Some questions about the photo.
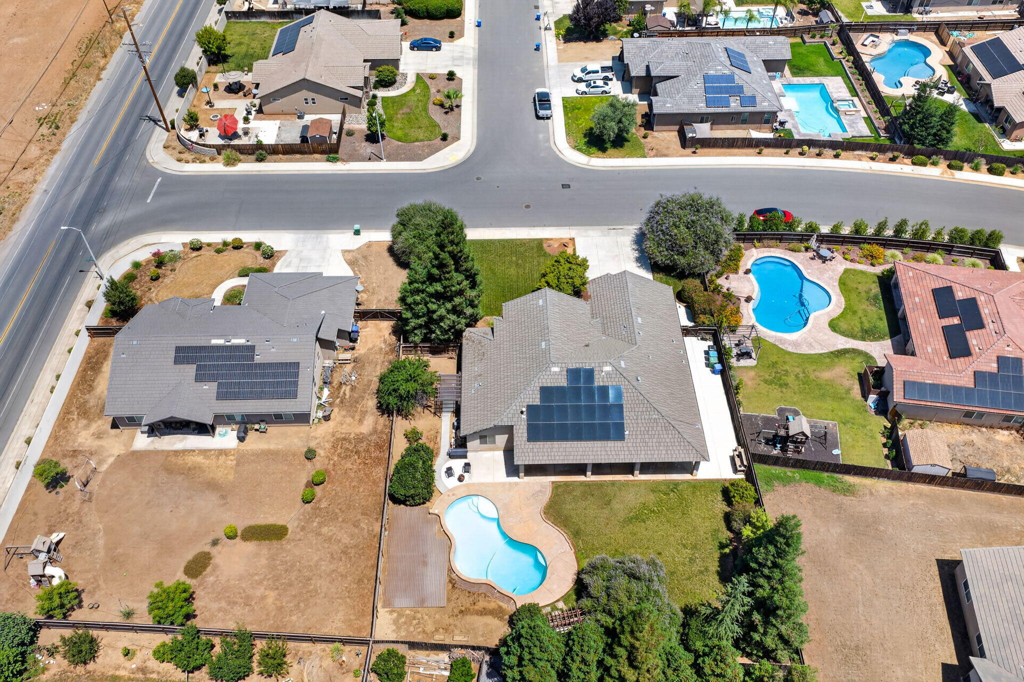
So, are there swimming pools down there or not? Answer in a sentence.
Yes, the image includes a swimming pool.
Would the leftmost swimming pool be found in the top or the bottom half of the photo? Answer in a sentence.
The bottom half of the photo is where the leftmost swimming pool is.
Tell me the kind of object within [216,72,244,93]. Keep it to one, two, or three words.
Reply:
umbrella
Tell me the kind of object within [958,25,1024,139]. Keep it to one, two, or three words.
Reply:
house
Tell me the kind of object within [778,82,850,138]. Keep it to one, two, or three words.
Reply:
swimming pool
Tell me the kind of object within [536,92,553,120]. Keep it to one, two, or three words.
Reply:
vehicle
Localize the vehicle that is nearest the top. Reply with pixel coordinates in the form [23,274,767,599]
[409,37,441,51]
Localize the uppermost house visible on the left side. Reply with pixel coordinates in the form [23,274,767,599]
[252,9,405,114]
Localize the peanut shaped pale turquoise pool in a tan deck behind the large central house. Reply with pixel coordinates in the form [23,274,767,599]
[441,491,551,599]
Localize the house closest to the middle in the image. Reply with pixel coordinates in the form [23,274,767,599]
[458,270,710,478]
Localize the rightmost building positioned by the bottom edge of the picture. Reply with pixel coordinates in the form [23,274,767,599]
[954,544,1024,682]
